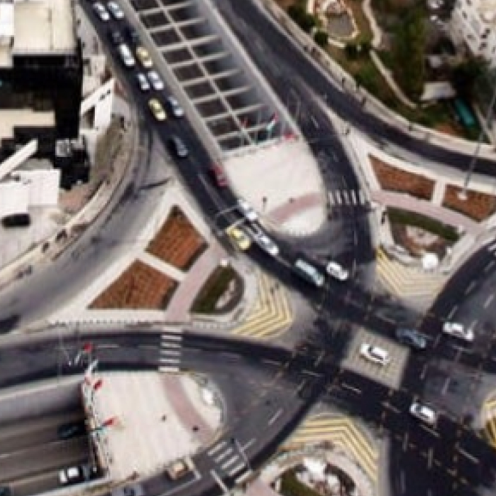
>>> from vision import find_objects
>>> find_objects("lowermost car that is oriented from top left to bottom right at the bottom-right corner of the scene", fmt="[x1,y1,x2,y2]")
[407,398,441,427]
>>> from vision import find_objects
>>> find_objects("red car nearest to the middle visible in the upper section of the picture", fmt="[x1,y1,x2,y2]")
[207,163,231,188]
